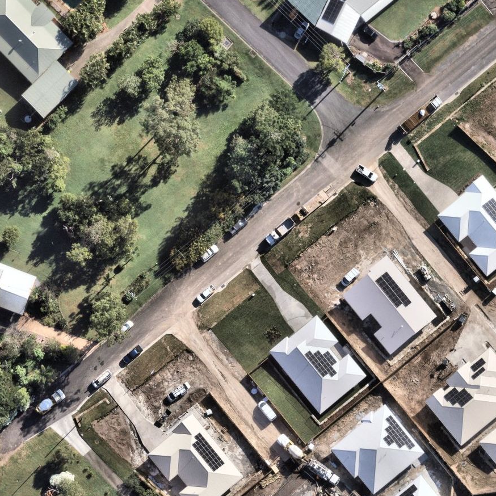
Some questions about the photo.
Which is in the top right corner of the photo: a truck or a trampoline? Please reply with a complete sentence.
The one visible in the top right corner of the photo is a truck.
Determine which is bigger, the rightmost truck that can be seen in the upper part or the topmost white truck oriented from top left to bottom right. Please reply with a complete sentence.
The rightmost truck that can be seen in the upper part covers a greater area than the topmost white truck oriented from top left to bottom right.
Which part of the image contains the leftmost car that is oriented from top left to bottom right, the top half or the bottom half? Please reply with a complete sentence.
You can find the leftmost car that is oriented from top left to bottom right in the bottom half.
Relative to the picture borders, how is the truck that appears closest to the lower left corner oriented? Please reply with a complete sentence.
I'd say the truck that appears closest to the lower left corner is aligned on a diagonal in the picture.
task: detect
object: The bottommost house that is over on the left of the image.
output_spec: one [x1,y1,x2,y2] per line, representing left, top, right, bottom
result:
[148,414,243,496]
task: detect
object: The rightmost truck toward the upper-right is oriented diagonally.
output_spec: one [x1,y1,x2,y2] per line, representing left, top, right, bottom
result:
[401,93,447,137]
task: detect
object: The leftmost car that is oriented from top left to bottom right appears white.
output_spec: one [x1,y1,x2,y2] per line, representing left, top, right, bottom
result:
[254,399,279,424]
